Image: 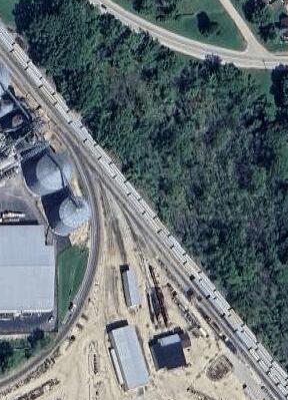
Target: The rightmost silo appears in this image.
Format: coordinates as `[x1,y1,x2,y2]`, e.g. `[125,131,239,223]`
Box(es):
[55,199,90,235]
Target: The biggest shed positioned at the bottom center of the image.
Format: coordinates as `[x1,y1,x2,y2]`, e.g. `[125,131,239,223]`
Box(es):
[110,325,149,390]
